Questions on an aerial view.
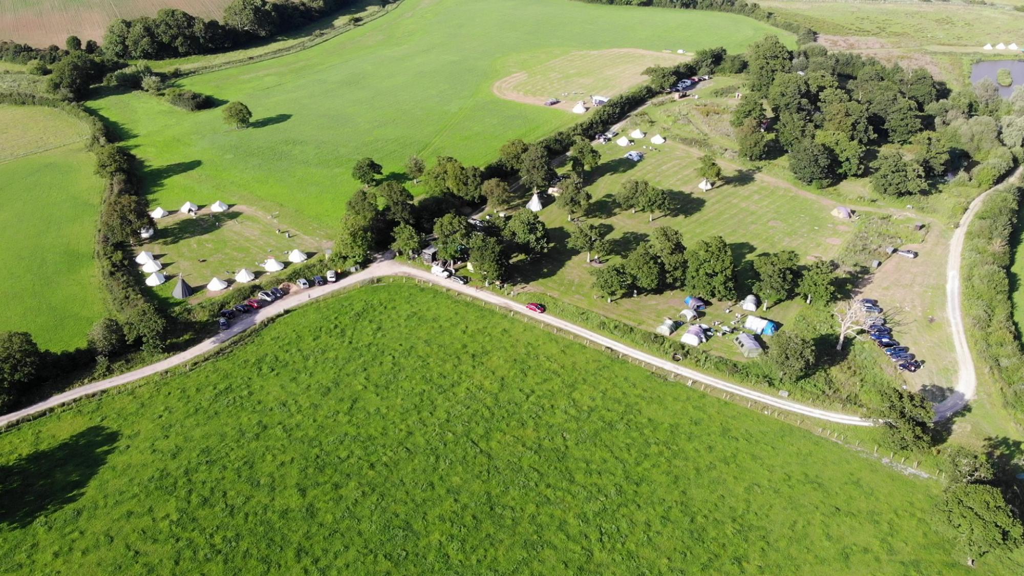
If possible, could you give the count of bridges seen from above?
zero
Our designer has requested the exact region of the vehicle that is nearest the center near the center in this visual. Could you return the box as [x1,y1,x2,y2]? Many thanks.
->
[526,299,544,311]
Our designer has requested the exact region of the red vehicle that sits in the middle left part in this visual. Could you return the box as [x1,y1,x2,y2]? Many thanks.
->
[246,295,262,307]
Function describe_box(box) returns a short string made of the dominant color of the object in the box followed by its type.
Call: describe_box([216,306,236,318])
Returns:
black vehicle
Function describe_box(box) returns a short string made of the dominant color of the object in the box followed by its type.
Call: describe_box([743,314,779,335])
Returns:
white tent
